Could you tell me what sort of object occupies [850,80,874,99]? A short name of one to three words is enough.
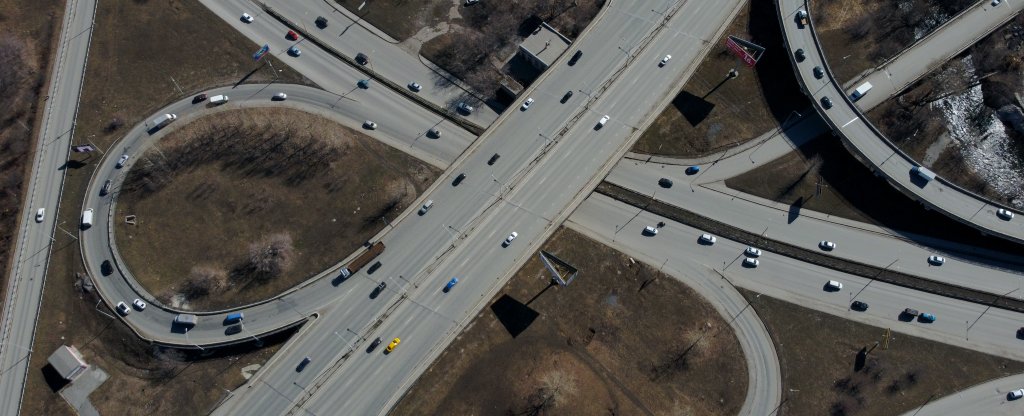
vehicle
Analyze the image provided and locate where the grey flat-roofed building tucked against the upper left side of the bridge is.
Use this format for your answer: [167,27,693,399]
[519,20,572,75]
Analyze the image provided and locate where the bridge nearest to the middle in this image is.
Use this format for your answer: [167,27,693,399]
[208,0,754,416]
